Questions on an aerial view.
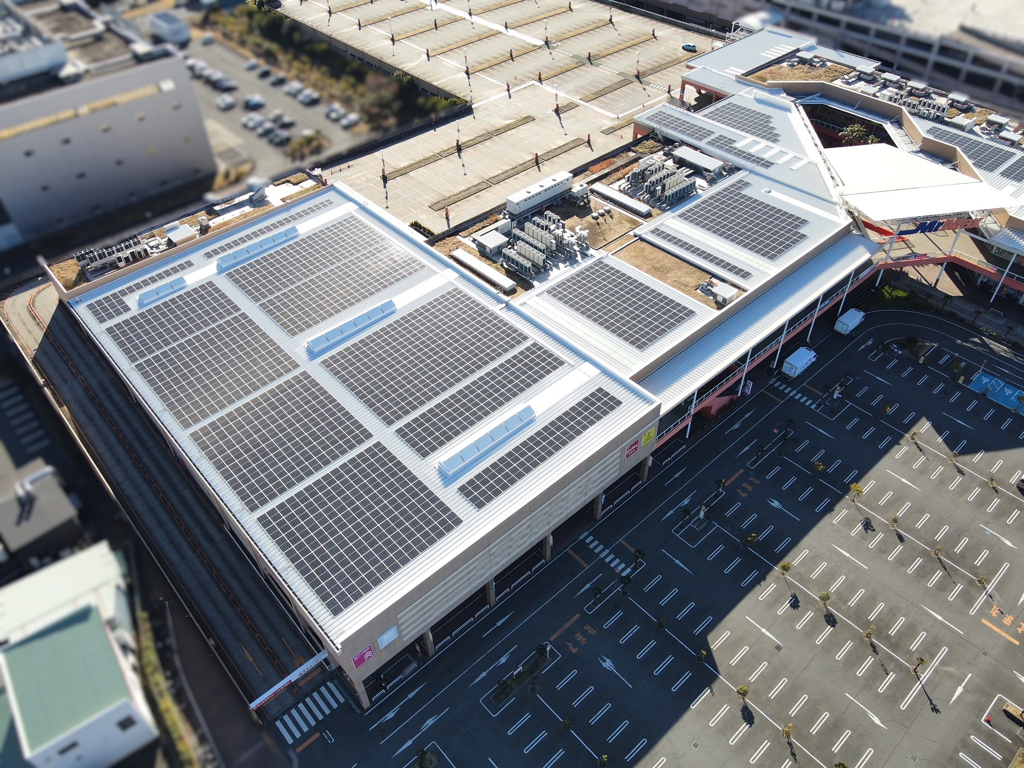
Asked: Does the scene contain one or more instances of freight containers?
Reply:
Yes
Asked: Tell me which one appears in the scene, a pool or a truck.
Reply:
truck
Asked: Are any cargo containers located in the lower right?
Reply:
No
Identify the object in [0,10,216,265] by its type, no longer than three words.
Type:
building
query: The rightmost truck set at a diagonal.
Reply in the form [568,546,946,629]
[836,301,870,332]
